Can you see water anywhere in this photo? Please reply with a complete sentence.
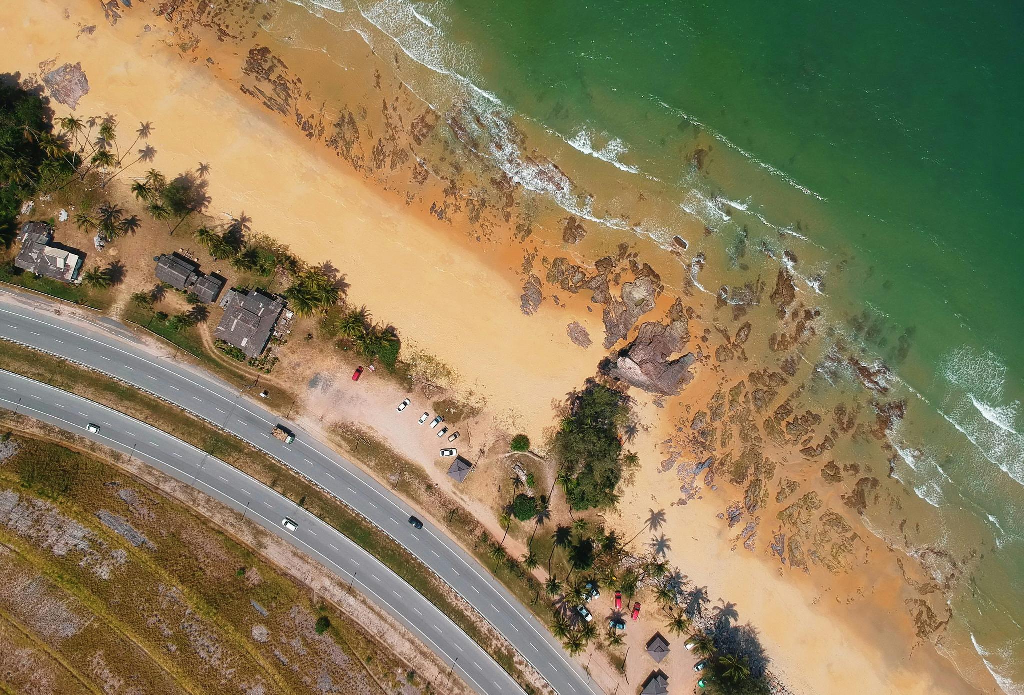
Yes, water shows up in the scene.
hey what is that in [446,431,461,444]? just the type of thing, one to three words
vehicle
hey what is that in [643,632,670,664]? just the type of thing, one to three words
building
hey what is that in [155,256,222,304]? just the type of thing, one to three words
house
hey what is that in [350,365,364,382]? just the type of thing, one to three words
car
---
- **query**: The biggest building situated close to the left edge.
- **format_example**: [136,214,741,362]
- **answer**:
[15,223,83,282]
